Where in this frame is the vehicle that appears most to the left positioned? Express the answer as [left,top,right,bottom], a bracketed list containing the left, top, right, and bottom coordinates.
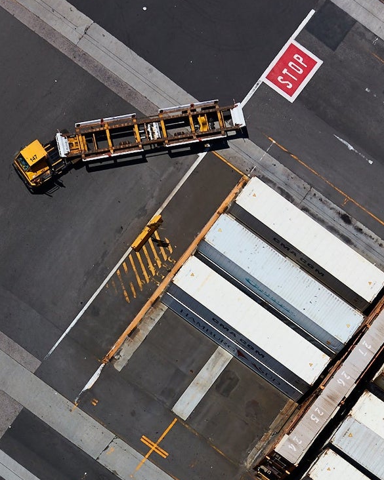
[12,129,88,193]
